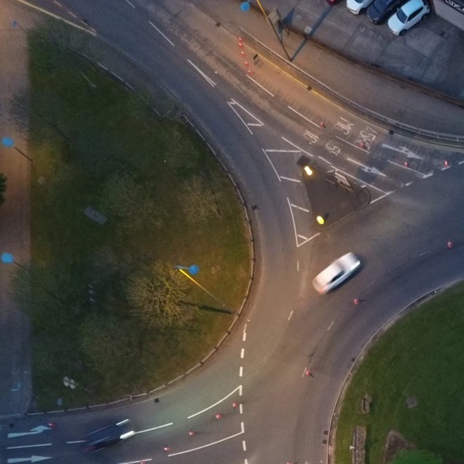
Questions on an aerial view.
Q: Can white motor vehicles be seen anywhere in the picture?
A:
Yes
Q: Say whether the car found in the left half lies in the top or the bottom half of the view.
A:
bottom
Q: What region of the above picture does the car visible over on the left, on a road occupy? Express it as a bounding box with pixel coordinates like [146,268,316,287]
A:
[84,421,133,451]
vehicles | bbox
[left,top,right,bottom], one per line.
[84,421,133,451]
[314,254,362,294]
[348,0,376,13]
[388,0,432,34]
[368,0,409,23]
